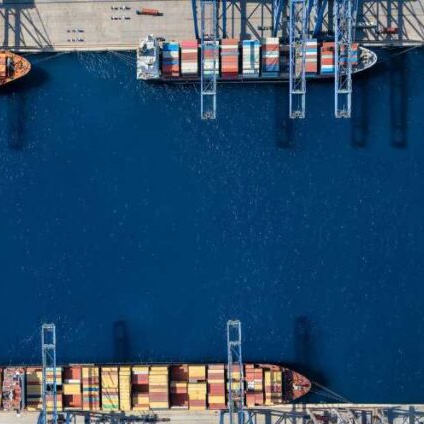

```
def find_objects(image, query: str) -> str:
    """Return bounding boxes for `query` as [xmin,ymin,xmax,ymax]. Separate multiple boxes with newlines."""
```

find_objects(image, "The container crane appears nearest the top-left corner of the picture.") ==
[178,0,226,119]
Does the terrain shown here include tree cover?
No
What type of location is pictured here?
port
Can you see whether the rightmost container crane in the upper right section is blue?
Yes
